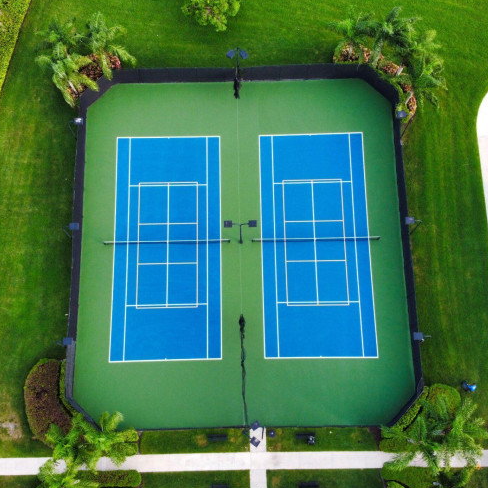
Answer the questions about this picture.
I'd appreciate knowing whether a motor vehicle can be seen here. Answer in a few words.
No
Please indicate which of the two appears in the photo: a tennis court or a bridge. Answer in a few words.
tennis court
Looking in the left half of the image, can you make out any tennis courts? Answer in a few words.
Yes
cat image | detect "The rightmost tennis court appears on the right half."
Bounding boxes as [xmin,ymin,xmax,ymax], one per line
[239,77,416,428]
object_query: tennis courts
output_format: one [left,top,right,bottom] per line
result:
[239,77,416,428]
[72,81,244,430]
